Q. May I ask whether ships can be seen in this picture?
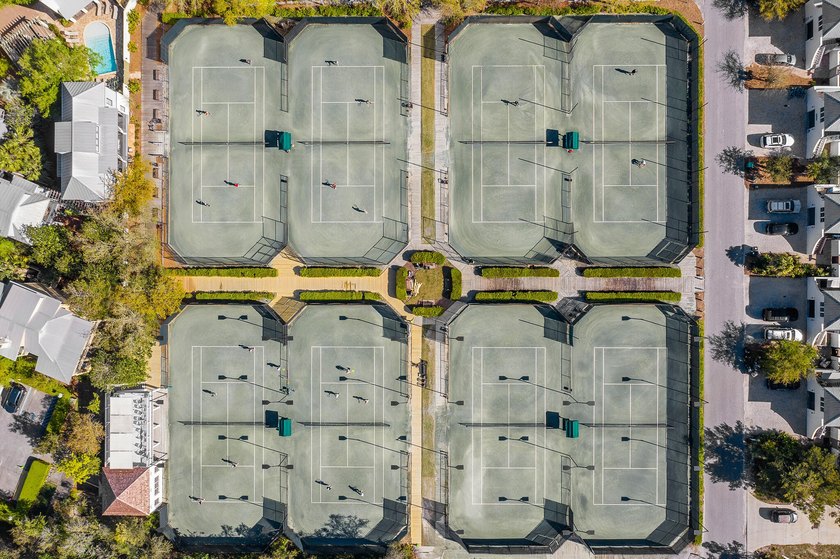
No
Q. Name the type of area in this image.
sports ground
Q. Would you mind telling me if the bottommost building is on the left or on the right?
left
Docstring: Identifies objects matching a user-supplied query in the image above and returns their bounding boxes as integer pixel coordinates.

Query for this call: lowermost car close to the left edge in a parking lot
[3,382,26,414]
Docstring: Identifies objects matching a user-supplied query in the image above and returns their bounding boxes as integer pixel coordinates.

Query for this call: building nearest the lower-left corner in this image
[101,459,162,516]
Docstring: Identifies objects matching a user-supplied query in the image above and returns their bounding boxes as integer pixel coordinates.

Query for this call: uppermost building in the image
[43,0,97,29]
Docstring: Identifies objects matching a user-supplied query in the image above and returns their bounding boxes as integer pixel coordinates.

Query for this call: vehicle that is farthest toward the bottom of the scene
[770,508,797,524]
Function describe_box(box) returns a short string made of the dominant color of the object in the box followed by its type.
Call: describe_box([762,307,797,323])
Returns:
black car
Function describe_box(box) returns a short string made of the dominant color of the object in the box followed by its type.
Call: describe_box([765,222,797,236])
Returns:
black car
